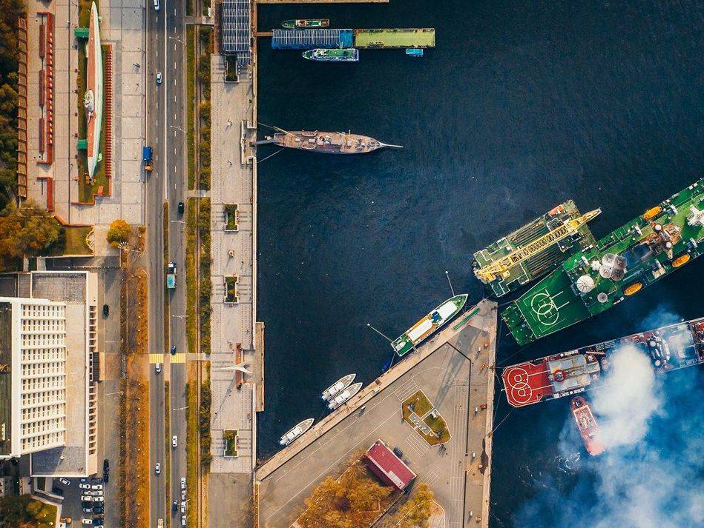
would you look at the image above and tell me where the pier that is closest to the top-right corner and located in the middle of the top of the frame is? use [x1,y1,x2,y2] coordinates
[354,28,436,49]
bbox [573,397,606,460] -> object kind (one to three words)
boat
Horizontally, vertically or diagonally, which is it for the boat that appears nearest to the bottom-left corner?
diagonally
